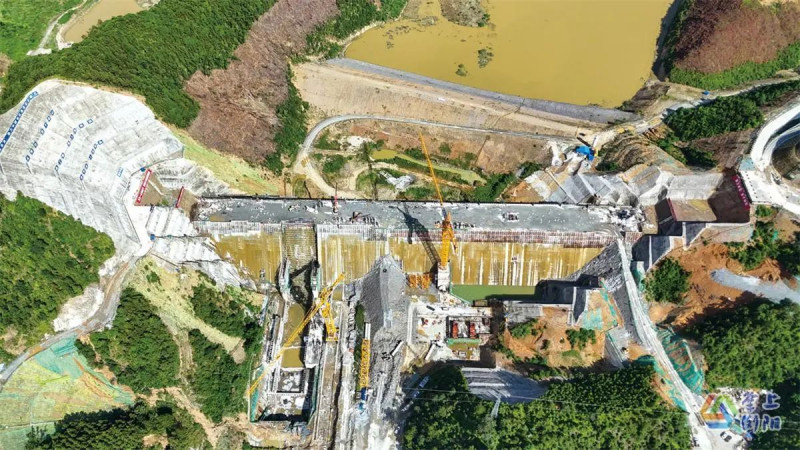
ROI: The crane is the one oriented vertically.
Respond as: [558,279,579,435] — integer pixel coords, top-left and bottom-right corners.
[419,127,462,294]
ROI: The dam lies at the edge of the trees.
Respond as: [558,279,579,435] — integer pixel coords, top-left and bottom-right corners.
[195,195,651,310]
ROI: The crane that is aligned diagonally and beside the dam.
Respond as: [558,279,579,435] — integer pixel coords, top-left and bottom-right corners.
[245,274,352,395]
